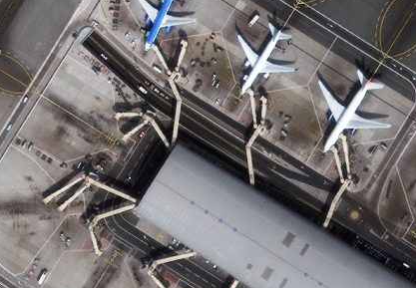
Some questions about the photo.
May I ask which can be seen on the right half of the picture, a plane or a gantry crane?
plane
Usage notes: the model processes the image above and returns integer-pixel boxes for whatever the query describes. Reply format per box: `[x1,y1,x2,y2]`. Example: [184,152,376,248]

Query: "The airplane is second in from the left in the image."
[237,24,299,95]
